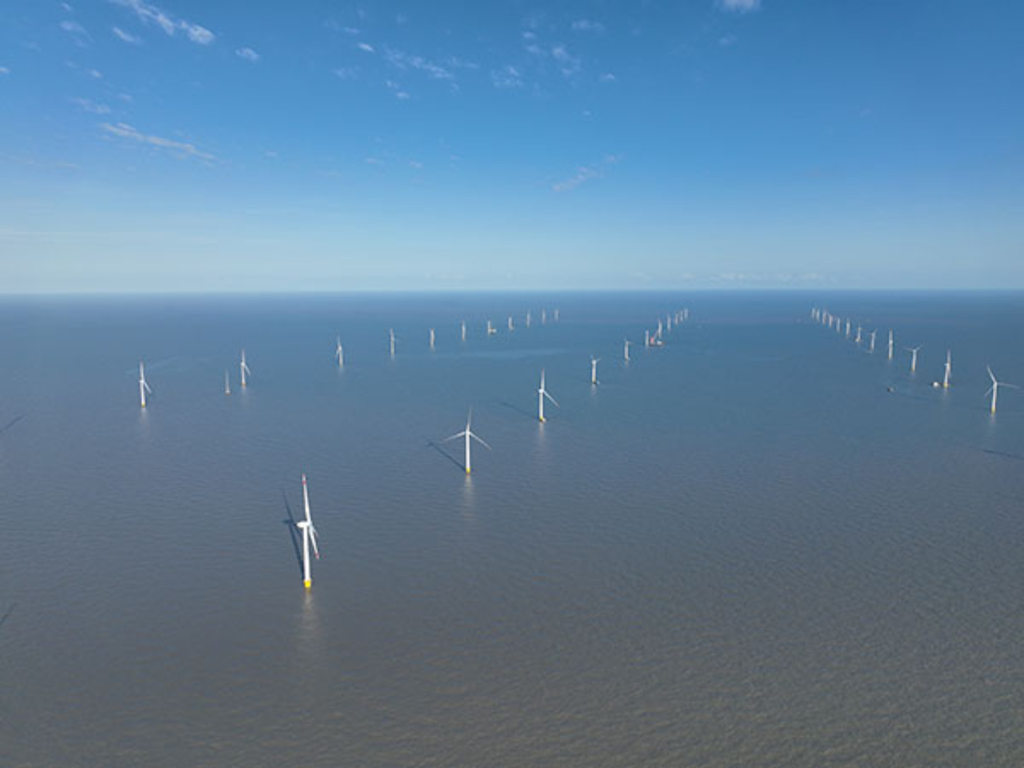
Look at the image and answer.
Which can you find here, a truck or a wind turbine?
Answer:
wind turbine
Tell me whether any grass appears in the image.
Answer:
No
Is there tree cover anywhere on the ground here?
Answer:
No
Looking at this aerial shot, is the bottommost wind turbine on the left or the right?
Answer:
left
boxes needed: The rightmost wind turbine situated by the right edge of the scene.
[986,369,1021,412]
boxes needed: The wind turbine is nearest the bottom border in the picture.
[294,473,318,587]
